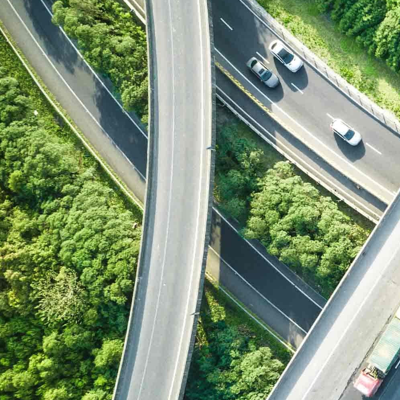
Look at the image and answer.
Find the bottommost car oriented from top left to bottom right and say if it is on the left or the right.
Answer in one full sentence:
The bottommost car oriented from top left to bottom right sits on the right side.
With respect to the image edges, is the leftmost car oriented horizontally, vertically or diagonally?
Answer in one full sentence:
In this picture, the leftmost car is oriented diagonally.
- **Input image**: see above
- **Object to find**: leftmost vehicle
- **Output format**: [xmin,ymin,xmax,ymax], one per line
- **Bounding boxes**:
[245,56,279,90]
